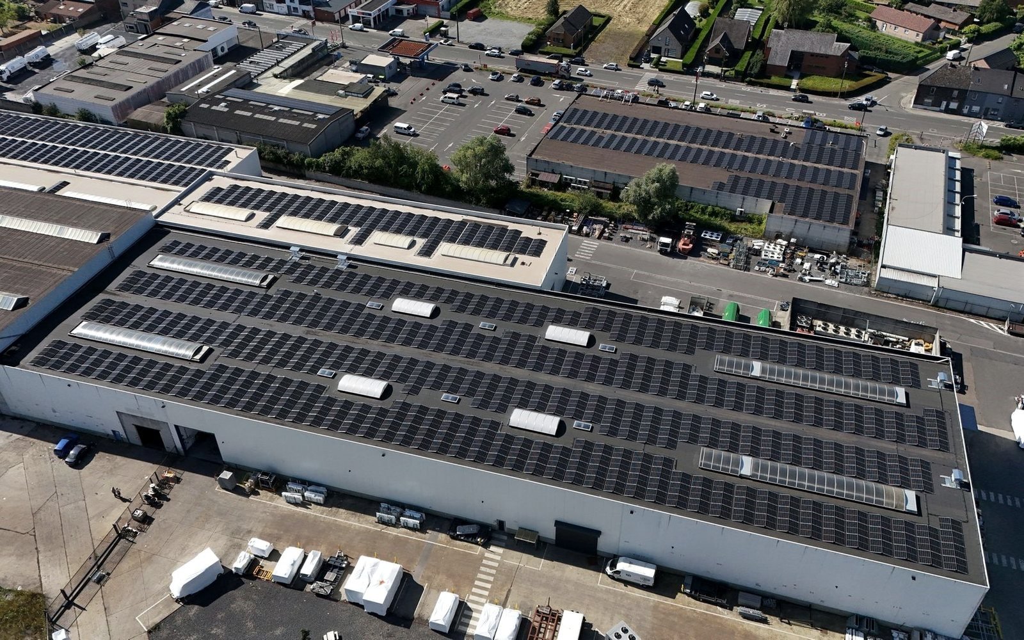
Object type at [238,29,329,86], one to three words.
building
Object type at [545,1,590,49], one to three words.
house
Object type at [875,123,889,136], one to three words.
vehicle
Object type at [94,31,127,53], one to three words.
truck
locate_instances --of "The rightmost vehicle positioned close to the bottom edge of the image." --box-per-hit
[681,573,733,608]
